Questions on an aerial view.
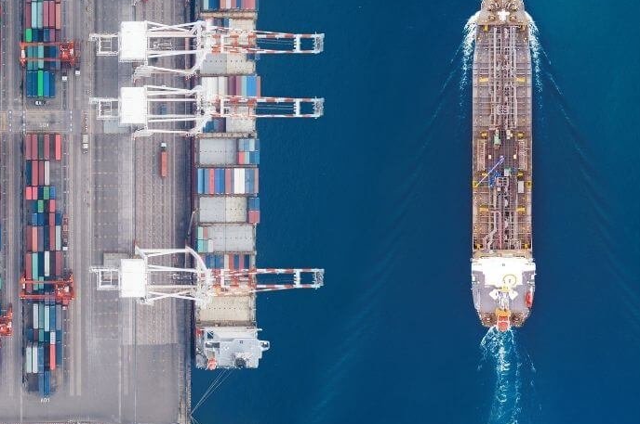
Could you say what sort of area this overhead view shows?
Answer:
port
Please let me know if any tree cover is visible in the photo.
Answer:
No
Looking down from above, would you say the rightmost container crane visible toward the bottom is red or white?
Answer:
white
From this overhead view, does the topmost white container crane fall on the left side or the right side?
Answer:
left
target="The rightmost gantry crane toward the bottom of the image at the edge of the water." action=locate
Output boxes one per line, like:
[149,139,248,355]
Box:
[90,239,322,313]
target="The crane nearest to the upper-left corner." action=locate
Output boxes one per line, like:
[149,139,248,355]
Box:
[17,39,85,66]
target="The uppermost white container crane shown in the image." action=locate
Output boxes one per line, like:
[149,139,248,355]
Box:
[90,12,322,82]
